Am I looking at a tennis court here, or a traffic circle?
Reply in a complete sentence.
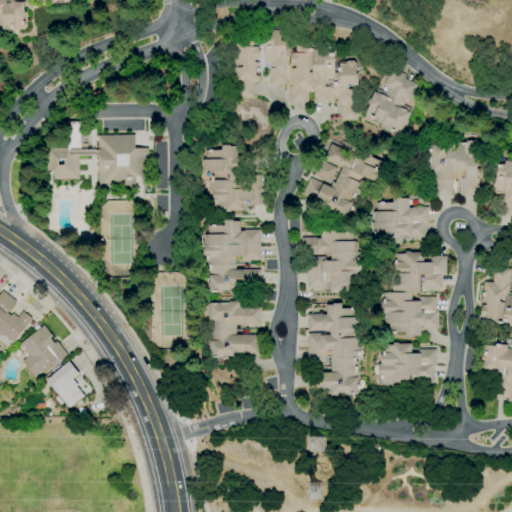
Looking from above, you can make out a tennis court.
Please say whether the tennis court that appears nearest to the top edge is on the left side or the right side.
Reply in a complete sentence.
The tennis court that appears nearest to the top edge sits on the left side.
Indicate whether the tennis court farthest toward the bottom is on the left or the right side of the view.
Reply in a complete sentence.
The tennis court farthest toward the bottom sits on the left side.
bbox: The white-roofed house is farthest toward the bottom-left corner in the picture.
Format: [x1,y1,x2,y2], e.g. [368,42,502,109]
[50,365,82,406]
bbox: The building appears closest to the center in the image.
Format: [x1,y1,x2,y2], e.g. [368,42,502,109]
[204,220,262,292]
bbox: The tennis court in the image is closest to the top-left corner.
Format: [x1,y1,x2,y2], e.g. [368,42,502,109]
[104,200,134,276]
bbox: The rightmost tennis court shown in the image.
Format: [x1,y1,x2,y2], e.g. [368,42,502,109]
[154,272,186,347]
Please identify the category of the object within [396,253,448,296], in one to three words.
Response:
house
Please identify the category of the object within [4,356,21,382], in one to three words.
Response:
swimming pool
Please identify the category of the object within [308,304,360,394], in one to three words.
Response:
house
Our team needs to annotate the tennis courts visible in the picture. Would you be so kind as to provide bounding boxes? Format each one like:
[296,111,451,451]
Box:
[154,272,186,347]
[104,200,134,276]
